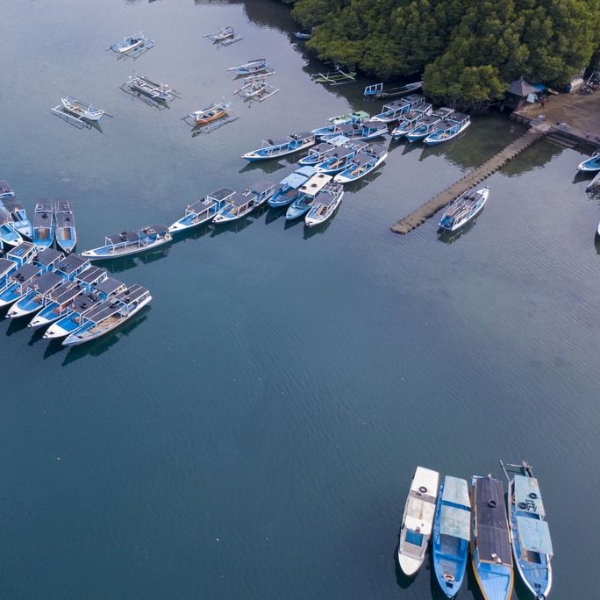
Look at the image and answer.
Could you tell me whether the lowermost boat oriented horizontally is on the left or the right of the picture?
left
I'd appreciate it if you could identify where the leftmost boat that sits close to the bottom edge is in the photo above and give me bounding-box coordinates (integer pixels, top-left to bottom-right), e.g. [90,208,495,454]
[396,463,441,576]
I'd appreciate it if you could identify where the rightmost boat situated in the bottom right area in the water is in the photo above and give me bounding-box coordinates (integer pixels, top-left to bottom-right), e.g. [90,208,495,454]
[503,474,556,598]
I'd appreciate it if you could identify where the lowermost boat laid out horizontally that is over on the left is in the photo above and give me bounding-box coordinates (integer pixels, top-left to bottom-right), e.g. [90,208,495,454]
[78,223,171,262]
